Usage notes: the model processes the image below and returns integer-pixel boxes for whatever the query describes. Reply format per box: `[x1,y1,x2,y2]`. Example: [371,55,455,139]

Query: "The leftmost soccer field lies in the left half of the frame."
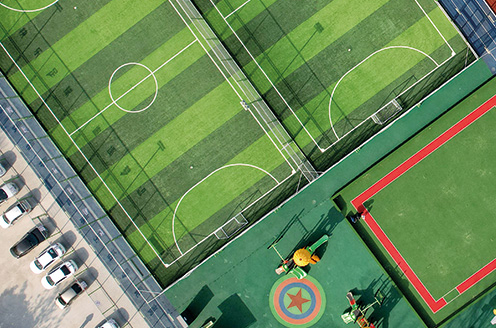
[0,0,316,288]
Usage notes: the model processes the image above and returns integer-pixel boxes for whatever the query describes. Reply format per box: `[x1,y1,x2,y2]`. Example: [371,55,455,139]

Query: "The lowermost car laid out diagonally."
[55,278,92,309]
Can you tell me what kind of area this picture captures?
sports ground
